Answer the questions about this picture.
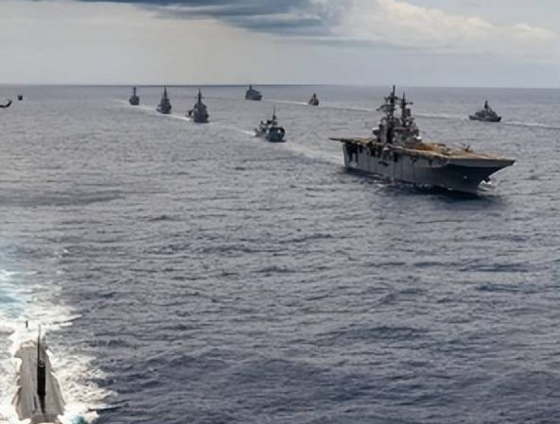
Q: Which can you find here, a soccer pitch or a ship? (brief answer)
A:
ship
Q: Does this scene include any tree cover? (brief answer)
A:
No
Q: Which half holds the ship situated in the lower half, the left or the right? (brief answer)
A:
left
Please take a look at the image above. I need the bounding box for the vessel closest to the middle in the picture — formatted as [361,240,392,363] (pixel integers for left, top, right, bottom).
[260,105,287,143]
